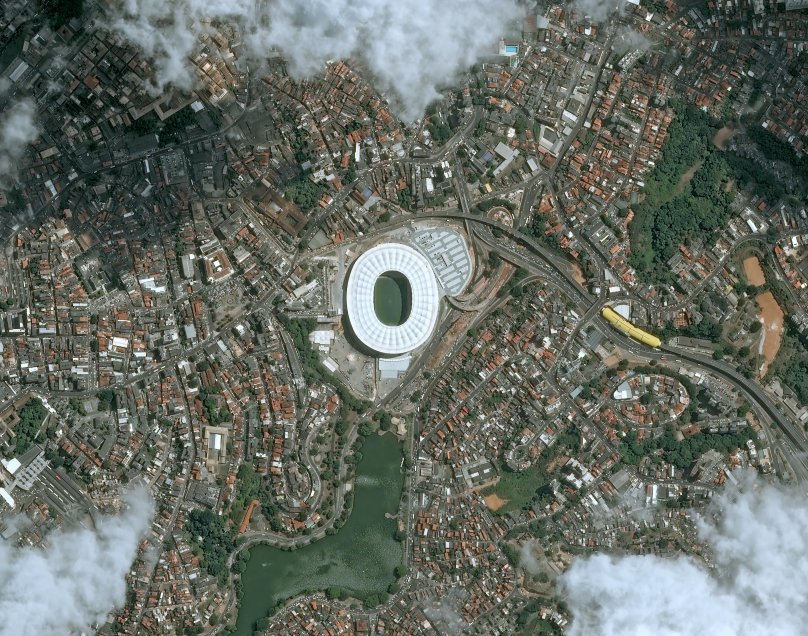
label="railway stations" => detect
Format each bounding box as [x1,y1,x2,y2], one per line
[600,307,661,349]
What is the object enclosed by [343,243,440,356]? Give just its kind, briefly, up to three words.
stadium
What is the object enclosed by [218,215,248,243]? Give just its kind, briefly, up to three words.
building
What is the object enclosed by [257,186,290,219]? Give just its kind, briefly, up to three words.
building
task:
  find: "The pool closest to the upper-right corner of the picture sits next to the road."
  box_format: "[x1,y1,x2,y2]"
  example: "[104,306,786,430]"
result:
[499,39,519,55]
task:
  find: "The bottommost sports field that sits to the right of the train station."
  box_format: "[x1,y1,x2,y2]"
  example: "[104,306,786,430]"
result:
[758,291,785,378]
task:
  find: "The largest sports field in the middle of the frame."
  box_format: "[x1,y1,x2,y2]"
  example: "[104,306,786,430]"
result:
[373,271,412,327]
